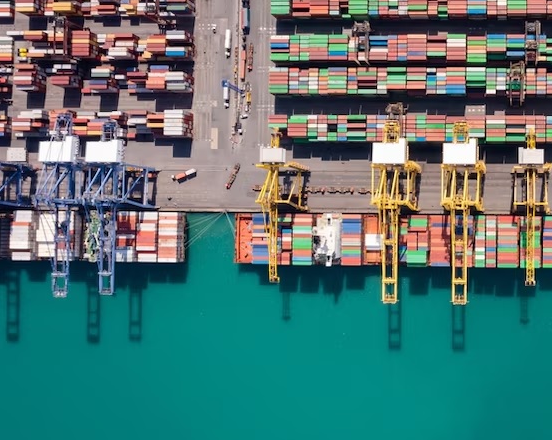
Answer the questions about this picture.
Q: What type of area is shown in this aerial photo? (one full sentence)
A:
This looks like a port.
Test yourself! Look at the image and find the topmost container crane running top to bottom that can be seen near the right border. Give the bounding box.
[519,21,540,69]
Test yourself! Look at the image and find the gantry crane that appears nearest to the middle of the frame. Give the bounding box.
[255,127,314,283]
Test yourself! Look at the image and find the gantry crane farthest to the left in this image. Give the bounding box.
[0,158,39,206]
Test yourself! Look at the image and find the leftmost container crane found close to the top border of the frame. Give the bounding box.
[50,14,89,63]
